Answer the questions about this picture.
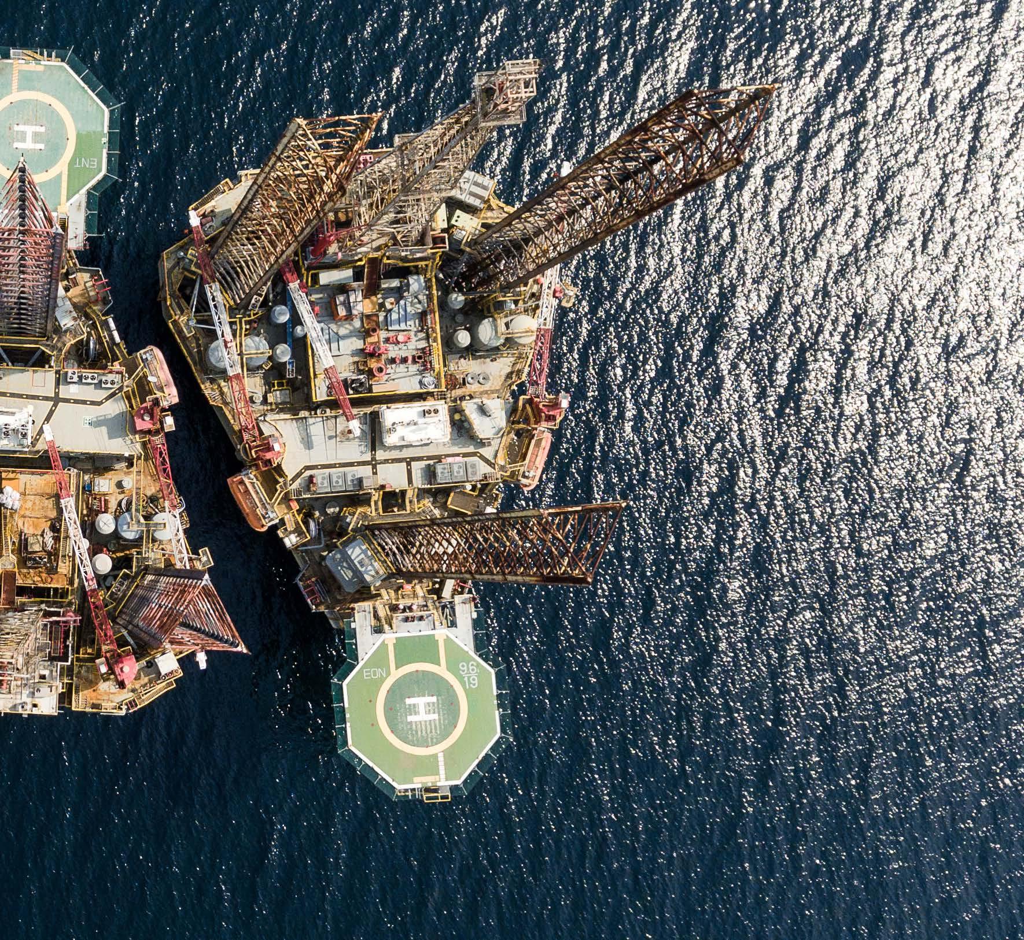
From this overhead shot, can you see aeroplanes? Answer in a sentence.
No, there appears to be no aeroplane in this shot.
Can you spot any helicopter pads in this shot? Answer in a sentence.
Yes, the picture does show a helicopter pad.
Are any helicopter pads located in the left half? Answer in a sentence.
Yes, a helicopter pad is visible in the left half.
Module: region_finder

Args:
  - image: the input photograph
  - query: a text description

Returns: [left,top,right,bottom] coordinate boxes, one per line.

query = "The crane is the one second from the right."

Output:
[257,224,364,442]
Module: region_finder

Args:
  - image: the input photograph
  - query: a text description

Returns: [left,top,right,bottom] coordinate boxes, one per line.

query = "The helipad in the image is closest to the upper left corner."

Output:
[0,44,122,275]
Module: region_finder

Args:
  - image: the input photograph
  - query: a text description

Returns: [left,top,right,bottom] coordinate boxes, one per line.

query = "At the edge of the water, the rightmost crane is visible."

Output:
[521,164,571,434]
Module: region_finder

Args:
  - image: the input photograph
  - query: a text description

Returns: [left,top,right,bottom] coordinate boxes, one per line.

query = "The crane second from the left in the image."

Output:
[135,399,192,565]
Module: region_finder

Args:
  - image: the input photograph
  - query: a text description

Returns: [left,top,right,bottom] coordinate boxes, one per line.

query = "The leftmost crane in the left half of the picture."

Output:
[44,424,138,689]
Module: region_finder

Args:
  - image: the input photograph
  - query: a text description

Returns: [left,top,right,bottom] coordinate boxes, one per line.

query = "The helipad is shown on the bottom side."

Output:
[325,582,518,805]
